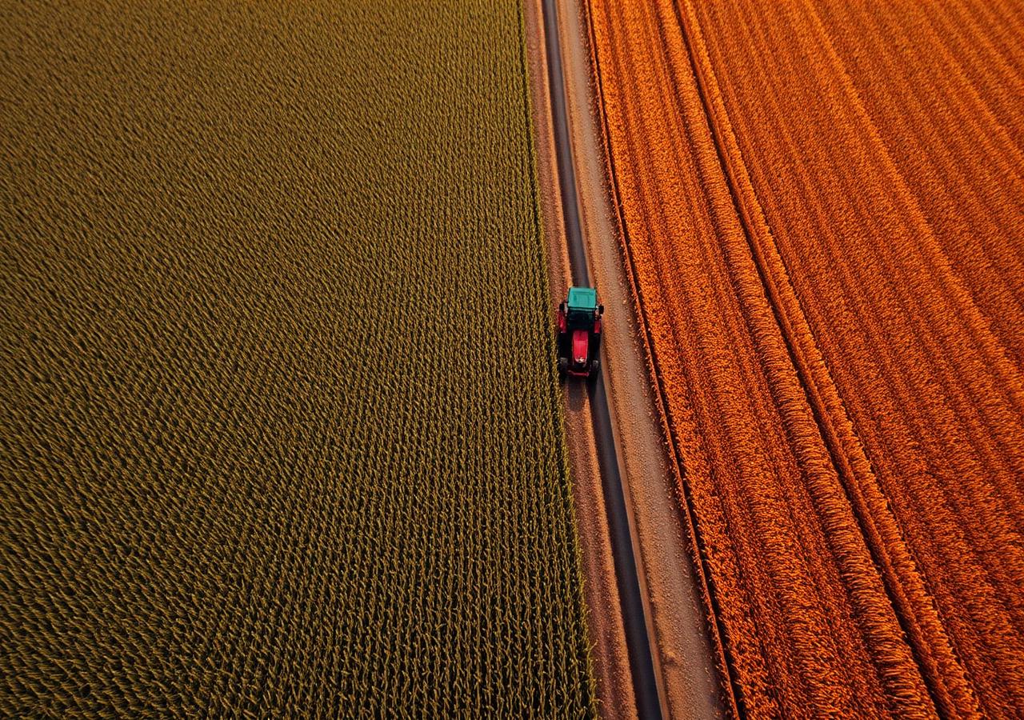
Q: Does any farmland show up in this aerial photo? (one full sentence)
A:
Yes, the picture does contain farmland.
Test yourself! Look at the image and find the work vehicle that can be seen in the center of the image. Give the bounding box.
[556,289,604,378]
